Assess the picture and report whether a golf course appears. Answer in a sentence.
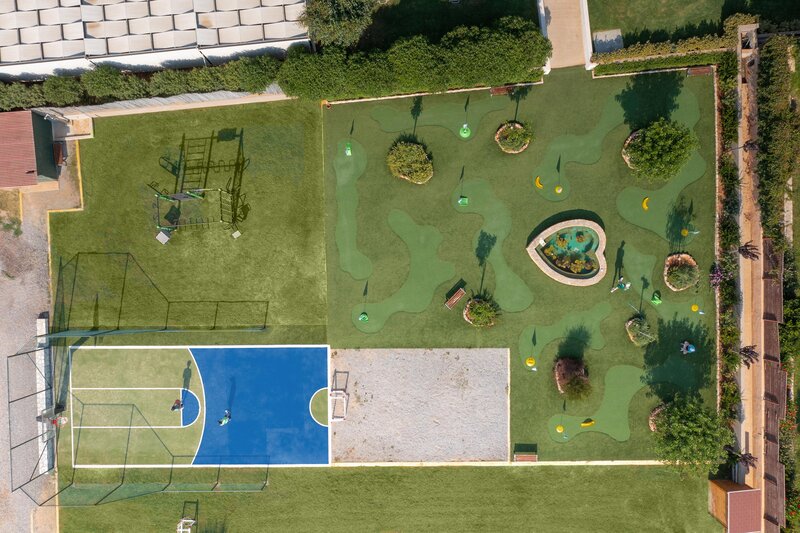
Yes, you can see a golf course in this photo.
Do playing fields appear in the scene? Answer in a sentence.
Yes, there's a playing field here.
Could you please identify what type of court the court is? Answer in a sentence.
Looking closely, the court is a basketball court.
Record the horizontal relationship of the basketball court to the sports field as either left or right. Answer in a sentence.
Compared with the sports field, the basketball court is located further to the left.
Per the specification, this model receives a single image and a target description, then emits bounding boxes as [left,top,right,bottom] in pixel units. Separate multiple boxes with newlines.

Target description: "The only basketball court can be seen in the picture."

[71,346,330,467]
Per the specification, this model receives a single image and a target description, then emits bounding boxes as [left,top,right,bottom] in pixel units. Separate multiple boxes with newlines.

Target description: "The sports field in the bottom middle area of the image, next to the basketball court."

[331,349,509,462]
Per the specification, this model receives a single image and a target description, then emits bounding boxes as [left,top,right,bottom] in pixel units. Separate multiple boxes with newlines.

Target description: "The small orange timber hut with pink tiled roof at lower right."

[709,480,762,532]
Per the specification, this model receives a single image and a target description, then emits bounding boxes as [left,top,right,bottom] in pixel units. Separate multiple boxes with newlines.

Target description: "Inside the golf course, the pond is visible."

[526,218,608,286]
